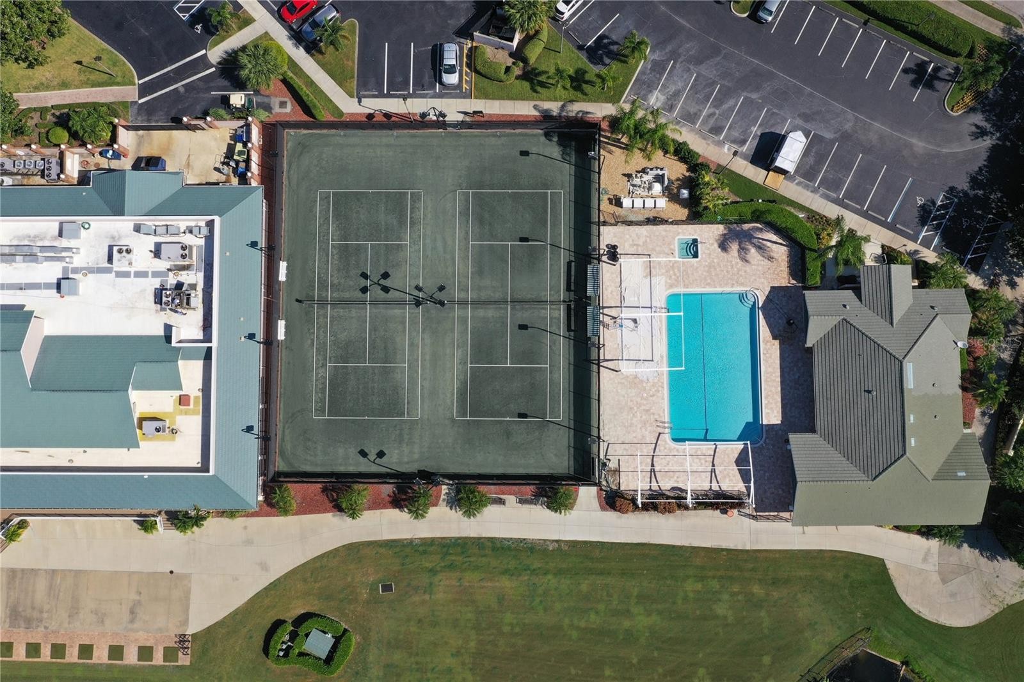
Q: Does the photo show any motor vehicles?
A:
Yes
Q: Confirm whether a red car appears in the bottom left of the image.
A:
No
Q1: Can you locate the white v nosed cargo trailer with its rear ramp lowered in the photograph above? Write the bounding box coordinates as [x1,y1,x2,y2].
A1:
[765,126,807,189]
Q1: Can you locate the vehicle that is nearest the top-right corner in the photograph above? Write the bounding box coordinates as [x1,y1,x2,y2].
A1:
[755,0,784,26]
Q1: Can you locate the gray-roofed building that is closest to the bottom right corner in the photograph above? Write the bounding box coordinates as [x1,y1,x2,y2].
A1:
[788,264,991,527]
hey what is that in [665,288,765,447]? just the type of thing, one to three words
swimming pool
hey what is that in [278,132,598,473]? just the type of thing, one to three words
tennis court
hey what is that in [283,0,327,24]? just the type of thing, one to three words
car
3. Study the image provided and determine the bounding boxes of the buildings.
[0,171,270,528]
[304,627,337,660]
[788,264,991,527]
